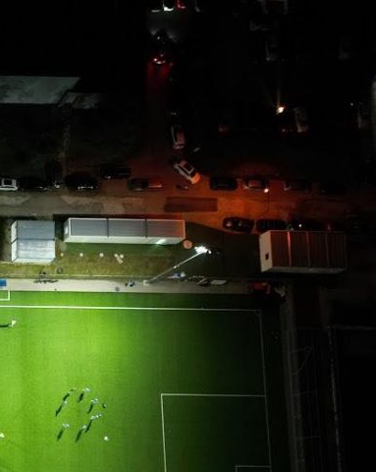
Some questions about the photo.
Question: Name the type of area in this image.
sports ground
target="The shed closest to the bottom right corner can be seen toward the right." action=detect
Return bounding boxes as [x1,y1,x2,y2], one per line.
[259,226,354,274]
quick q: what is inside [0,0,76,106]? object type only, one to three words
building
